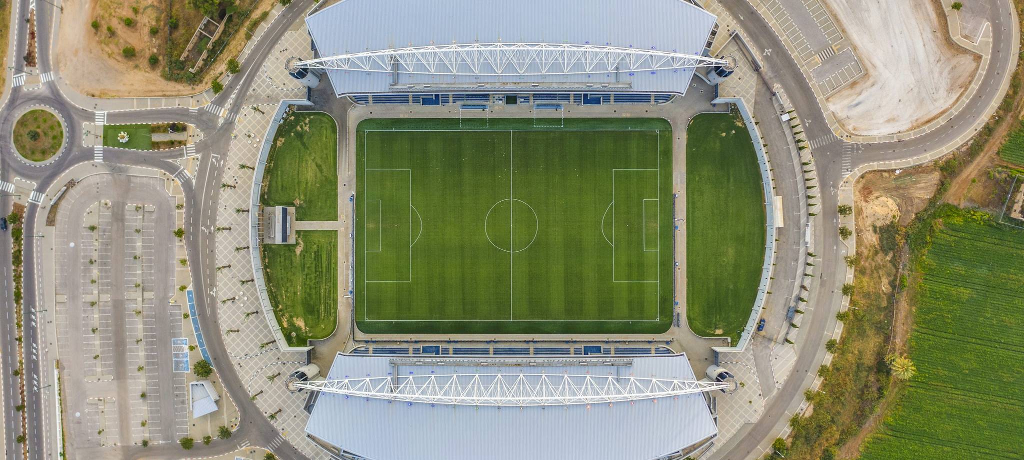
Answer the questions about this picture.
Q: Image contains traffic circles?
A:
Yes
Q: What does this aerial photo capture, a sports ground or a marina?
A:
sports ground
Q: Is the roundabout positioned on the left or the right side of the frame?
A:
left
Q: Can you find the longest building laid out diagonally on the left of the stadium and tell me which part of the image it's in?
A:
top left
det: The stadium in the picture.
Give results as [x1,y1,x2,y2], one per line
[249,0,784,460]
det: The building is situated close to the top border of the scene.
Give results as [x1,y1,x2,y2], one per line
[180,14,231,75]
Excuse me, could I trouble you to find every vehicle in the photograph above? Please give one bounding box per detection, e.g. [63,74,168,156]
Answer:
[0,217,6,230]
[757,317,766,333]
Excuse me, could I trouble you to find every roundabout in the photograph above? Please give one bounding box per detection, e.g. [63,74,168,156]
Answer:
[7,104,69,166]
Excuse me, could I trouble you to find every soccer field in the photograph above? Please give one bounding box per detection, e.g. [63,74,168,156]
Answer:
[356,109,673,334]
